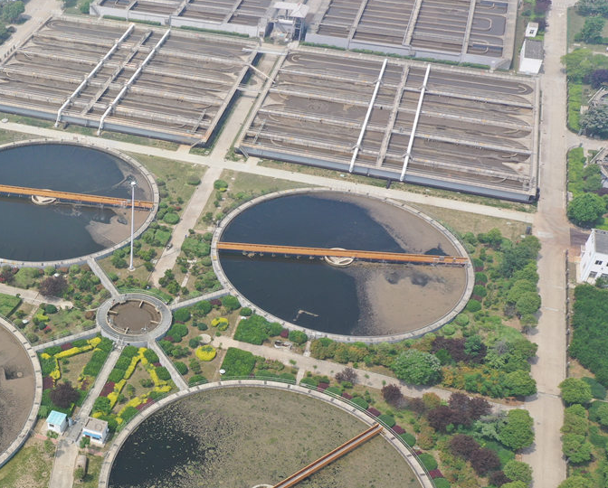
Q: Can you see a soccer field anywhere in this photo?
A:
No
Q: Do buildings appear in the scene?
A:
Yes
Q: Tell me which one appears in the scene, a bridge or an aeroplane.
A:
bridge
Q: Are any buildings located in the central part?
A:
No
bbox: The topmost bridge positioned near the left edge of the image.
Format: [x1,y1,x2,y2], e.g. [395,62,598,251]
[0,184,156,210]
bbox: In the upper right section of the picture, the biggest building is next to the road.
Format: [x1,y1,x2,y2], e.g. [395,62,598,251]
[519,38,543,74]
